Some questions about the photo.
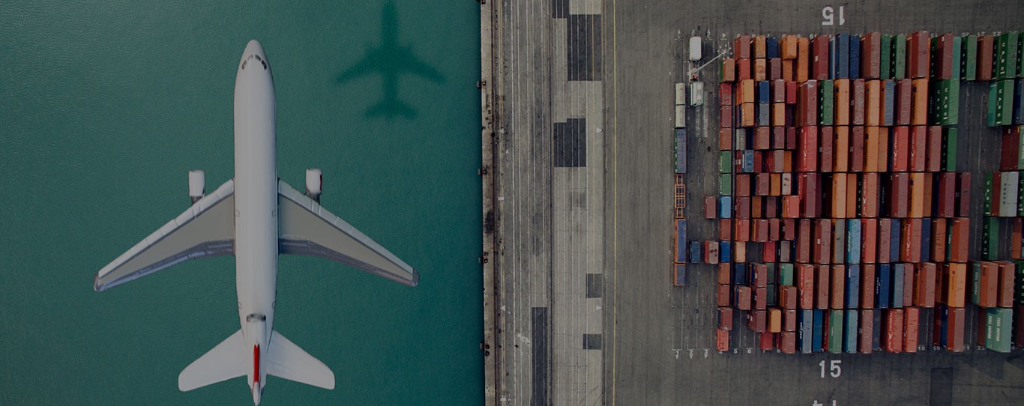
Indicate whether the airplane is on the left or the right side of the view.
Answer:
left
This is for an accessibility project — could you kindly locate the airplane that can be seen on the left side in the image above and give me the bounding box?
[94,38,419,406]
